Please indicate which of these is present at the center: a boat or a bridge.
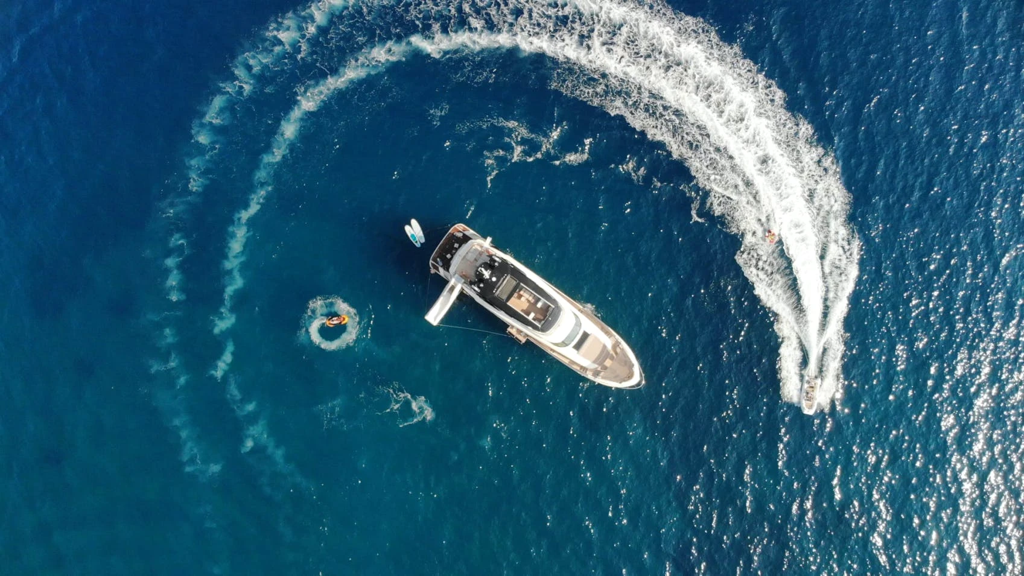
boat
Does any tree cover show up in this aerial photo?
No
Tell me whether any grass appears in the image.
No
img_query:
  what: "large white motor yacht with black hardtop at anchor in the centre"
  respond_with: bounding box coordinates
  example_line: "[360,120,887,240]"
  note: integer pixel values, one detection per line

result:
[431,223,645,389]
